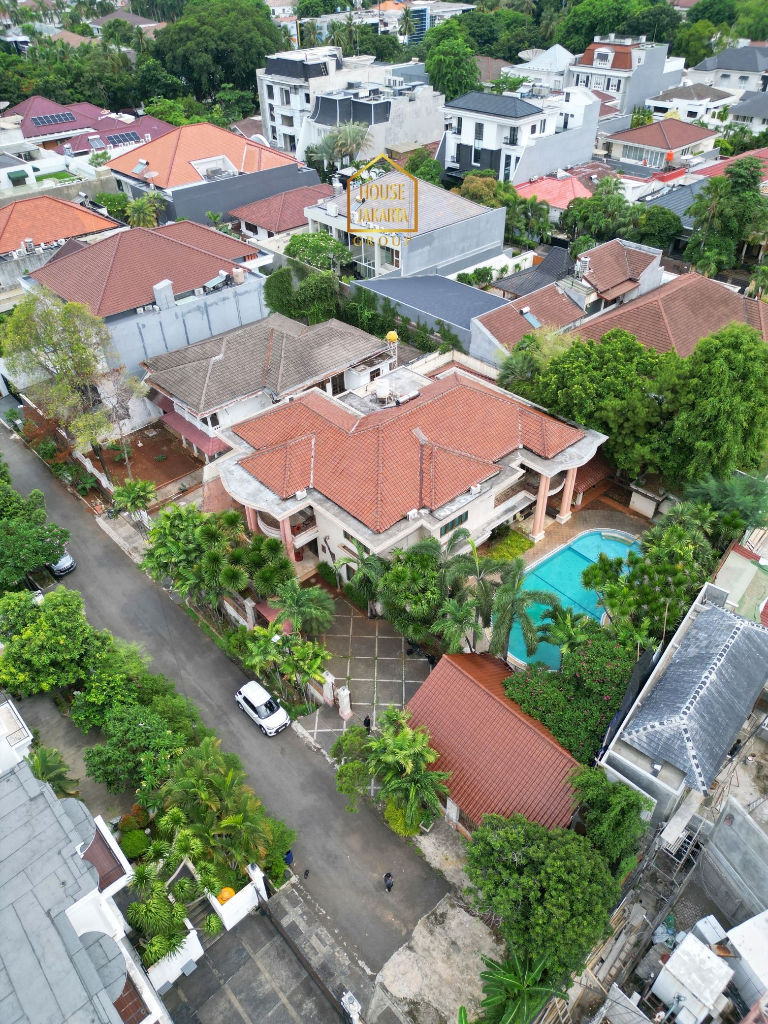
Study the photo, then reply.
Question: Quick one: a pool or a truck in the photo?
pool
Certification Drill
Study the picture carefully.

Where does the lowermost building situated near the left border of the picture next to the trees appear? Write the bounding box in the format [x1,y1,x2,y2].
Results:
[0,762,172,1024]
